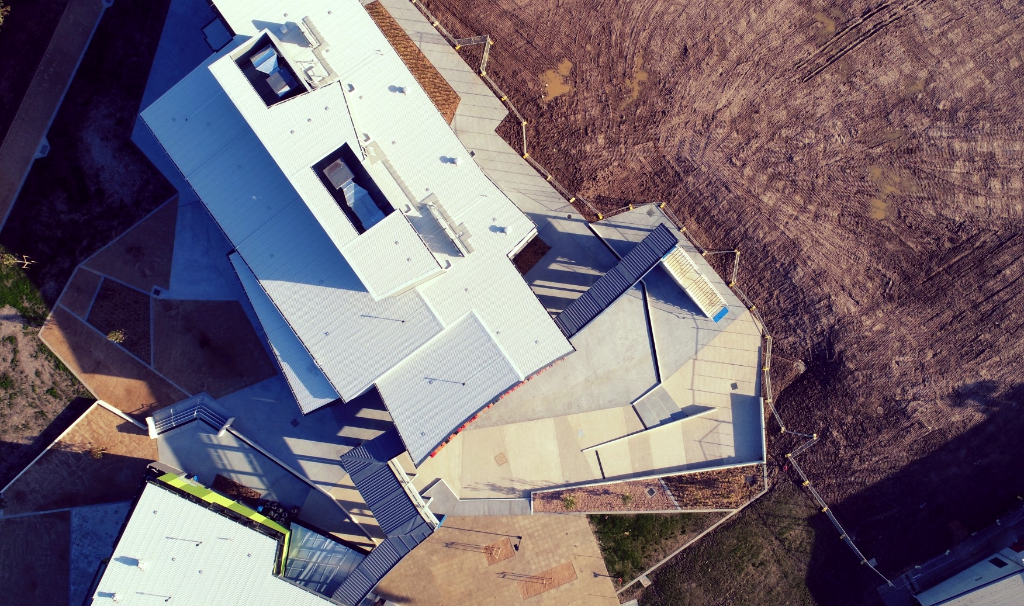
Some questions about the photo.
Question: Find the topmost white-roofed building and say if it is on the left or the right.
left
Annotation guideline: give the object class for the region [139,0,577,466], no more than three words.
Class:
building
